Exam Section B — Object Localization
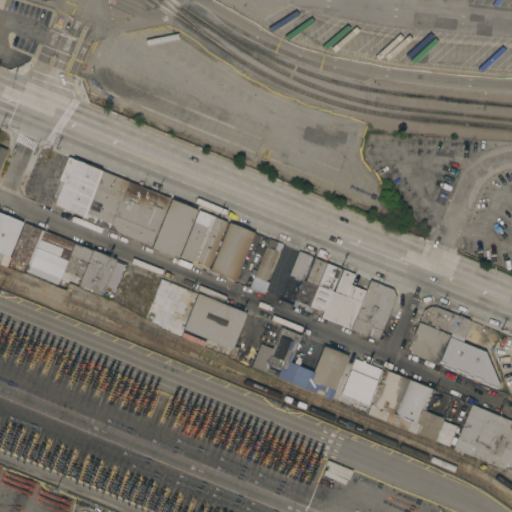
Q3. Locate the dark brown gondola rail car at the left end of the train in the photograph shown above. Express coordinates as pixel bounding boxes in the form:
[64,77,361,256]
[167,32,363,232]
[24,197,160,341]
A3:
[238,374,284,398]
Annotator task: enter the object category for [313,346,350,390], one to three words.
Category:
building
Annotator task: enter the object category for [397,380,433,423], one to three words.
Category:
building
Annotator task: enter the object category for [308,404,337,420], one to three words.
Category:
rail car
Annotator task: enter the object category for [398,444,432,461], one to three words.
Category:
rail car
